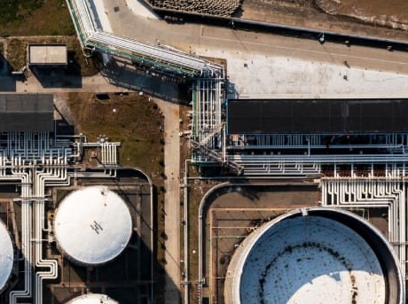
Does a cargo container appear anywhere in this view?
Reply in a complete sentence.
No, I can't see a single cargo container in this photo.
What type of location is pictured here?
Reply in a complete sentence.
What you see here is an industrial area.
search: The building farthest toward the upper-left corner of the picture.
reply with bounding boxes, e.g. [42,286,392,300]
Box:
[28,43,68,70]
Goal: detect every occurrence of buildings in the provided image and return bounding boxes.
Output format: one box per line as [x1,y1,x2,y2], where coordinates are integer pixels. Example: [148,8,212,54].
[222,98,408,138]
[28,43,68,70]
[0,93,55,135]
